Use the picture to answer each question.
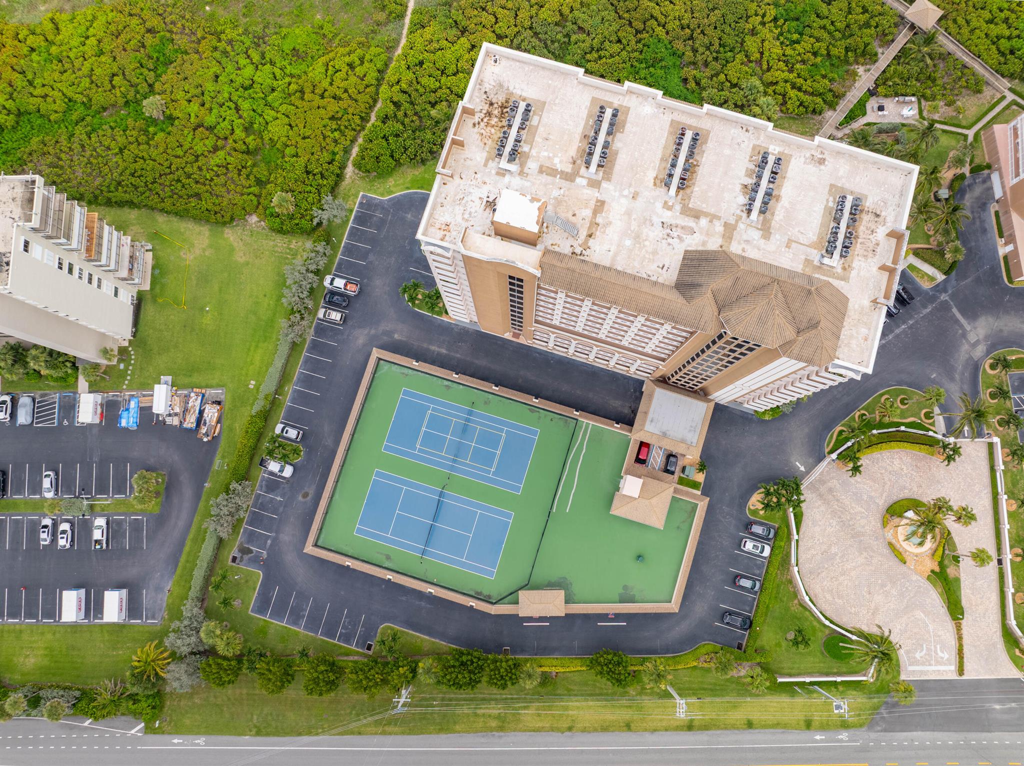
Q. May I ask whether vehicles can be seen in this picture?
Yes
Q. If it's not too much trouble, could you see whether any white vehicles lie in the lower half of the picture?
Yes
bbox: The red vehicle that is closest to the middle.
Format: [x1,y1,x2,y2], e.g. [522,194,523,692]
[634,440,652,467]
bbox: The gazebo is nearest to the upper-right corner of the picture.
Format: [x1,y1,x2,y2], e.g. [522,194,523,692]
[904,0,950,30]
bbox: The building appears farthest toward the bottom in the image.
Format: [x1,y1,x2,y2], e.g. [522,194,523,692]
[519,590,565,617]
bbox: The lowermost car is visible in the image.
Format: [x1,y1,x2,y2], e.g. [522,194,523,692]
[720,611,752,630]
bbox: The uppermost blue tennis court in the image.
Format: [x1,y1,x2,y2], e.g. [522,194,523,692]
[382,388,540,495]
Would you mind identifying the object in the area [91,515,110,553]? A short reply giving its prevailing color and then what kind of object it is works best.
white vehicle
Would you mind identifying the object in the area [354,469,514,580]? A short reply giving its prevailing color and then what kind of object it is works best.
blue tennis court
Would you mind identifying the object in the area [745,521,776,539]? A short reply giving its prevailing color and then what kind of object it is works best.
gray car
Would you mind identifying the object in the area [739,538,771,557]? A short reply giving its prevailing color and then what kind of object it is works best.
white car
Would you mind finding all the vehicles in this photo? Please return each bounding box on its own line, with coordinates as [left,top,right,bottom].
[720,611,752,630]
[40,469,58,499]
[732,574,762,592]
[745,521,776,539]
[257,456,295,477]
[57,521,74,551]
[317,308,346,325]
[0,393,15,423]
[39,516,56,546]
[634,440,652,467]
[884,319,897,336]
[739,538,771,557]
[322,291,352,308]
[0,469,9,499]
[661,449,679,476]
[897,283,924,312]
[324,276,360,295]
[275,424,304,441]
[91,515,110,553]
[889,303,908,322]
